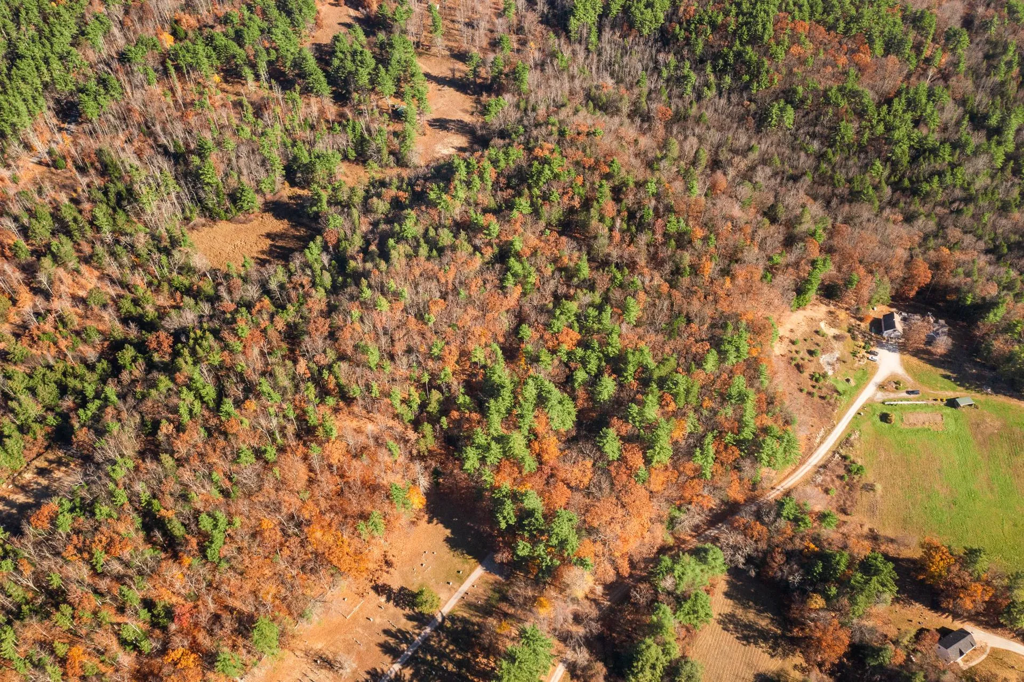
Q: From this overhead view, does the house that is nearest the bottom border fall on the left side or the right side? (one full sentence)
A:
The house that is nearest the bottom border is on the right side of the image.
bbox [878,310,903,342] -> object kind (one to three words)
barn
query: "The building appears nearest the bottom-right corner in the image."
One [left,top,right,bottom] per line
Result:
[933,625,977,665]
